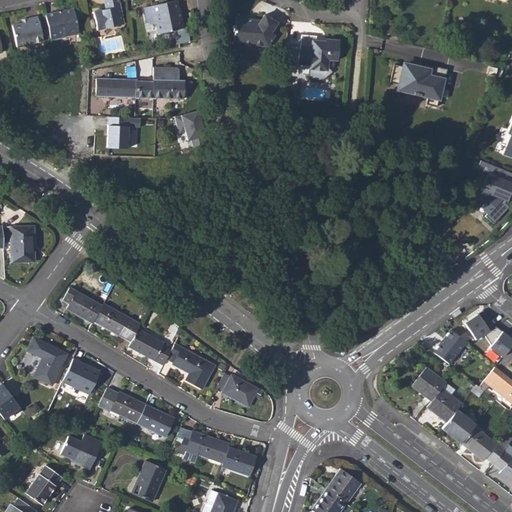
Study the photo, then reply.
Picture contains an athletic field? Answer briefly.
No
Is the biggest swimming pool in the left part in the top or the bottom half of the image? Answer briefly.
top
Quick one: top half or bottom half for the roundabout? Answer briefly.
bottom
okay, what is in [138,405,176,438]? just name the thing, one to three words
house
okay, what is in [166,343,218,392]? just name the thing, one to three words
house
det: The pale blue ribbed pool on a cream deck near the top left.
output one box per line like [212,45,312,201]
[100,35,125,55]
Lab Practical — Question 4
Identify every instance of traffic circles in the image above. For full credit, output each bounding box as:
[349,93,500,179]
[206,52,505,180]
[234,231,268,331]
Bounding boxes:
[289,356,362,429]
